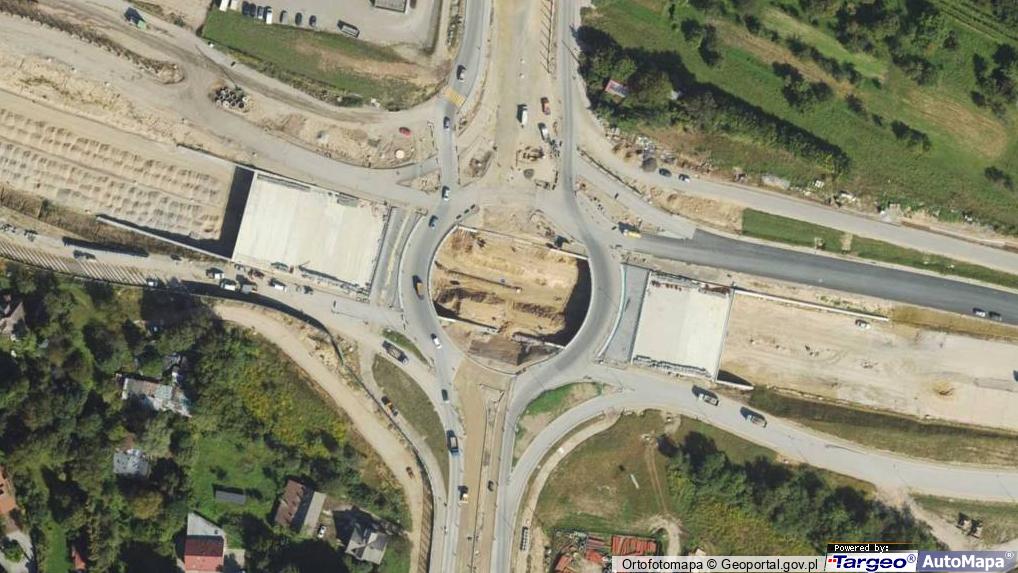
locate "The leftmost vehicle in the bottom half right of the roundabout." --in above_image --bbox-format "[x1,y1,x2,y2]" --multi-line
[698,393,720,406]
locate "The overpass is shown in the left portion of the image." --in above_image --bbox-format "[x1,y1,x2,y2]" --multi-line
[233,172,388,292]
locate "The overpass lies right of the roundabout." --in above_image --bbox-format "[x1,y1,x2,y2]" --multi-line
[633,273,735,378]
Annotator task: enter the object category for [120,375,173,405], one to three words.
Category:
house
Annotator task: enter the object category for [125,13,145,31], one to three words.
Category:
vehicle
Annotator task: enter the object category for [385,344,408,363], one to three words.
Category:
vehicle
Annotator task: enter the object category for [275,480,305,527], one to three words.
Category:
barn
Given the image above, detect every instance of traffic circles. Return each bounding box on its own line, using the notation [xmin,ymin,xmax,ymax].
[398,187,622,403]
